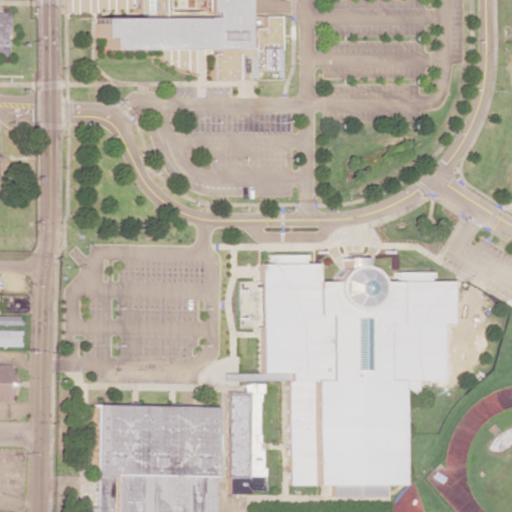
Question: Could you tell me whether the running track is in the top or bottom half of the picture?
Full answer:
The running track sits in the bottom half of the picture.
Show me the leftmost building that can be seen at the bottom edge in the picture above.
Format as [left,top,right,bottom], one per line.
[96,405,222,512]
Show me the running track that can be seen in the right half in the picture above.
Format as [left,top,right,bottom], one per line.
[428,388,512,512]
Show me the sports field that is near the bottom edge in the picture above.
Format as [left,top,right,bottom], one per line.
[466,408,512,512]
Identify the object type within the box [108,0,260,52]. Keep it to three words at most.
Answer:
building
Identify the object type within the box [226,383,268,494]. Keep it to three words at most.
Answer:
building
